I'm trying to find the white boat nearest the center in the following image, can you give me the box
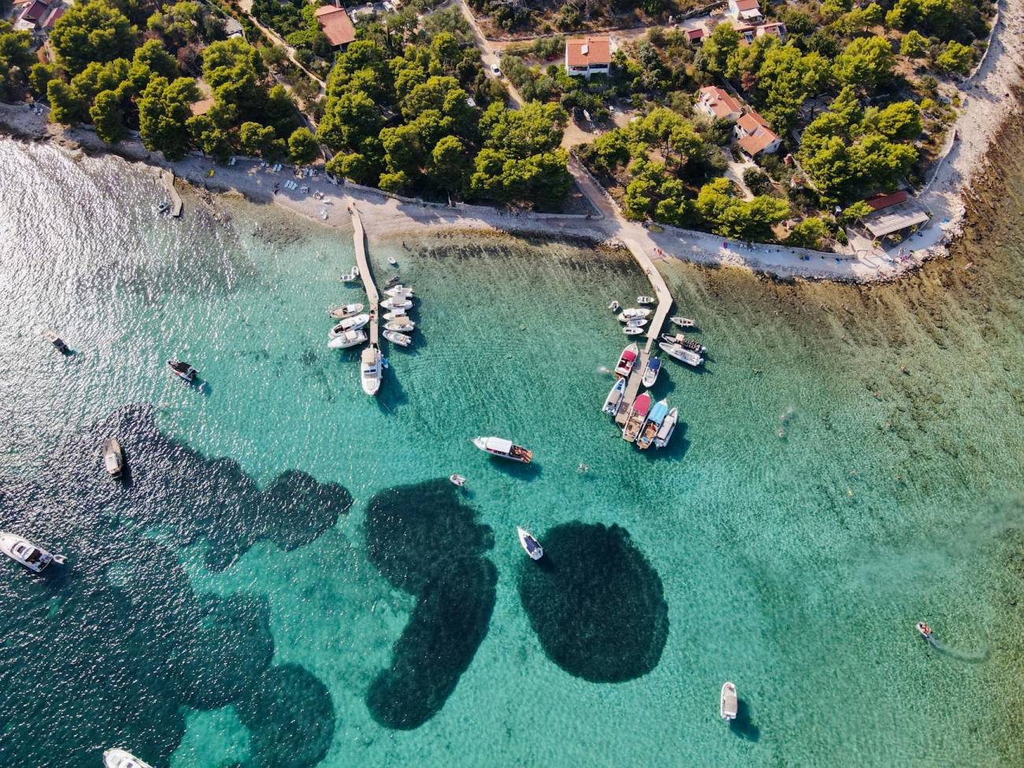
[468,436,534,464]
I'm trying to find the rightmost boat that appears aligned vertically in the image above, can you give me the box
[721,683,738,720]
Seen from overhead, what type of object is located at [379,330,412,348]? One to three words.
boat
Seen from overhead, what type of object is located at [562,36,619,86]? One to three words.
house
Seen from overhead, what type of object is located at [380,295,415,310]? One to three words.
boat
